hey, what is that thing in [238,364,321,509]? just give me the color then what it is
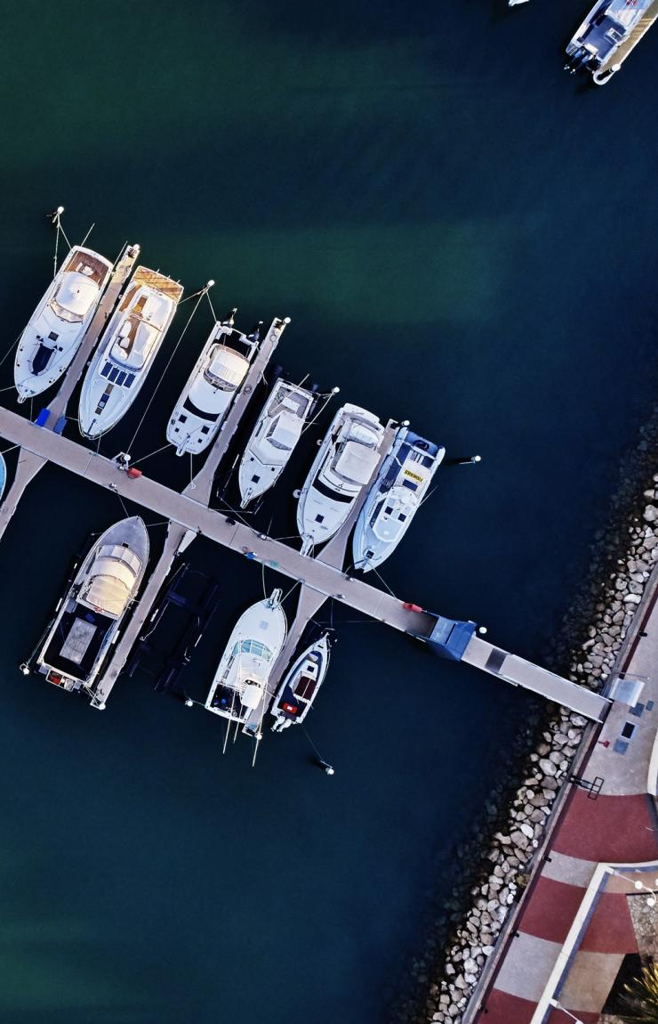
white boat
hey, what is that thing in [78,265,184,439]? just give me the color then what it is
white boat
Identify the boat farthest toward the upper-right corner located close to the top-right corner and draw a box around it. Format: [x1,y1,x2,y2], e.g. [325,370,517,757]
[562,0,655,73]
